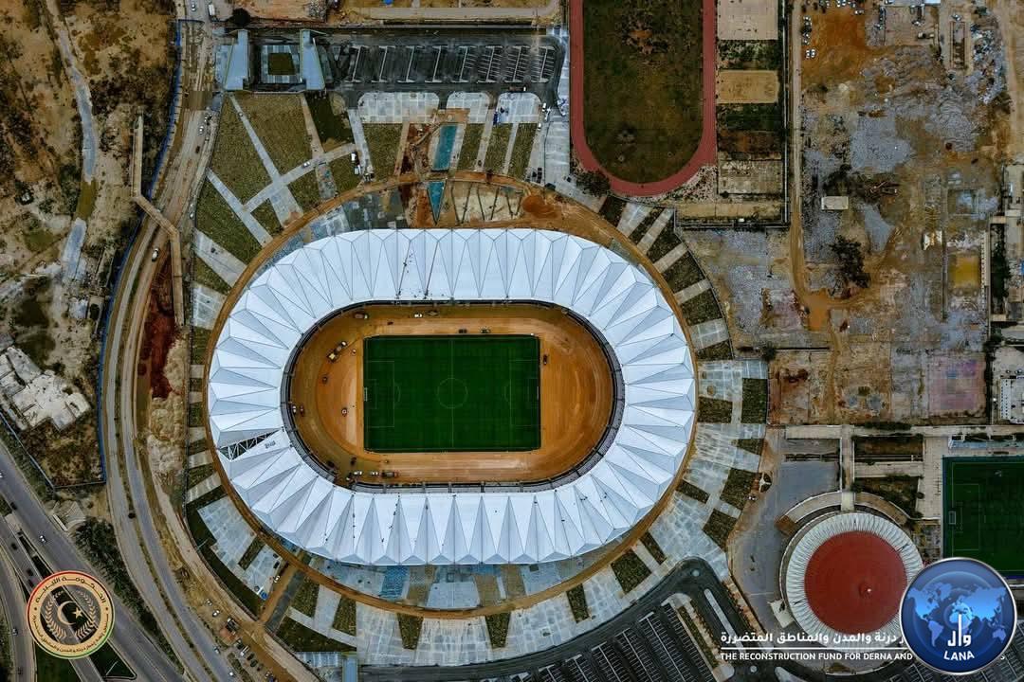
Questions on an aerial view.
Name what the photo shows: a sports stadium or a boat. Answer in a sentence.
There is a sports stadium in the scene.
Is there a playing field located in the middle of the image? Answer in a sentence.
Yes, in the middle of the image there is a playing field.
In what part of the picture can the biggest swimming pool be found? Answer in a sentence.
The biggest swimming pool is located in the top region of the scene.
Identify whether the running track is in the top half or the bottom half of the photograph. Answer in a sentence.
It is in the top half that the running track appears.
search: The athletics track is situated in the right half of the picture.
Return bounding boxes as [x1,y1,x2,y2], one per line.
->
[570,0,716,196]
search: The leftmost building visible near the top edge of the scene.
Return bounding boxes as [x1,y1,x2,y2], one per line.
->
[224,29,251,90]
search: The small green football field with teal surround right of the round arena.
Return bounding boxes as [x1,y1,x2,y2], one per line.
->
[942,455,1024,579]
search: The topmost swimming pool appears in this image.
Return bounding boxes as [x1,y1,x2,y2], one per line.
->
[432,125,457,170]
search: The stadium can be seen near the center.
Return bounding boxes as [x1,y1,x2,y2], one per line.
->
[208,228,694,566]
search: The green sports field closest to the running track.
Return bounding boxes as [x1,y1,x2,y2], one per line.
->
[363,335,541,453]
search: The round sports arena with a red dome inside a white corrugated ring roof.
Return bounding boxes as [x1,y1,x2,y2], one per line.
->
[760,503,925,656]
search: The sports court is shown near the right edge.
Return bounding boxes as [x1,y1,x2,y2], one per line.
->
[929,354,985,410]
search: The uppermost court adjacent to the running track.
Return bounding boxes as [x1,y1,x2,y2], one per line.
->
[718,0,778,39]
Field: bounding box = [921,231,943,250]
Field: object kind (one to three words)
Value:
building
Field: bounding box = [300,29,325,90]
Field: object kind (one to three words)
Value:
building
